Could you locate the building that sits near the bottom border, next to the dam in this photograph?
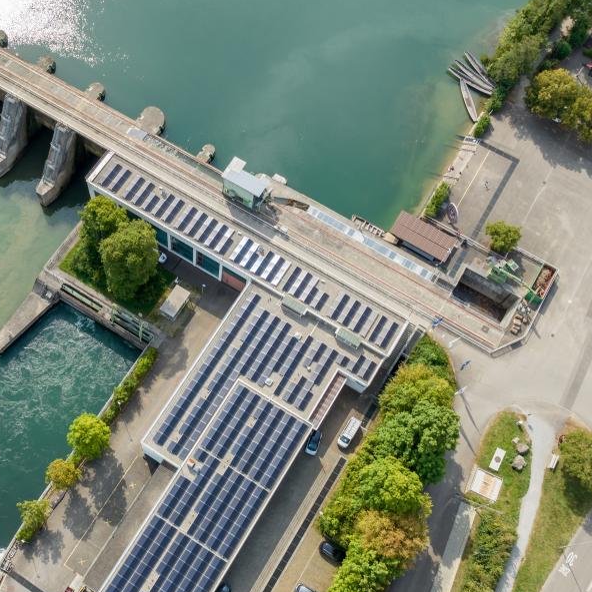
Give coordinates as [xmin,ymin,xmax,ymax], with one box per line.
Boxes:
[101,383,316,592]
